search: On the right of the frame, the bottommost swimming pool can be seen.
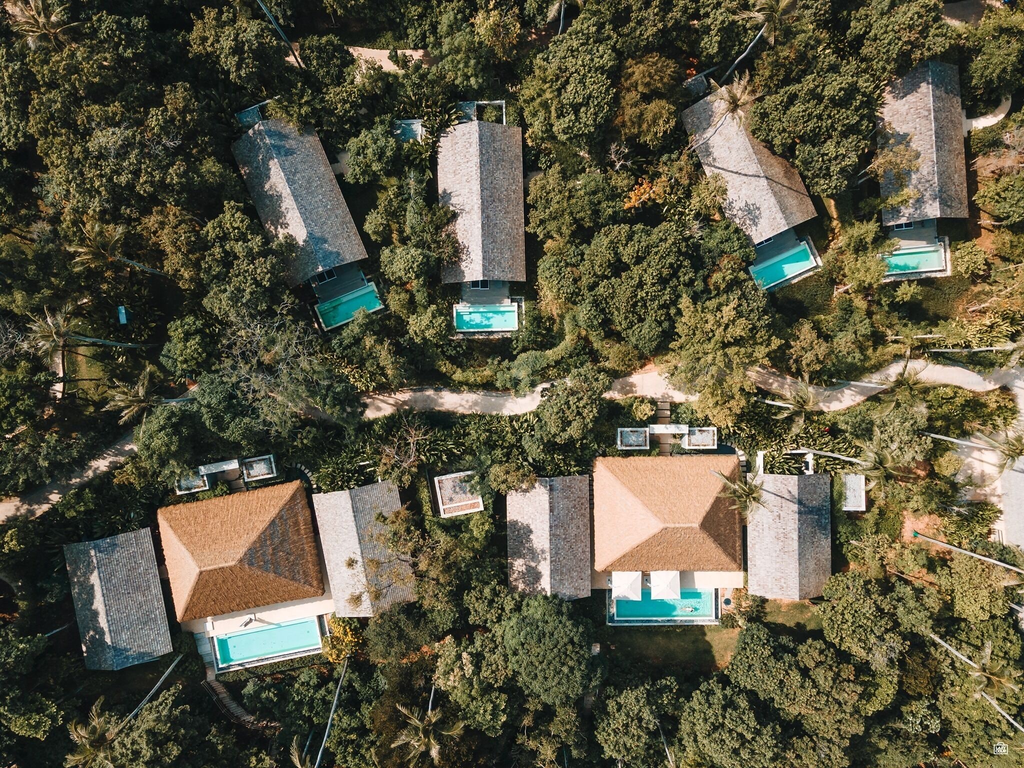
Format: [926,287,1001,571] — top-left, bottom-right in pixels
[614,586,714,619]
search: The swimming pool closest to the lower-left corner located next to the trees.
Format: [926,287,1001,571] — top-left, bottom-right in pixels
[213,613,324,667]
